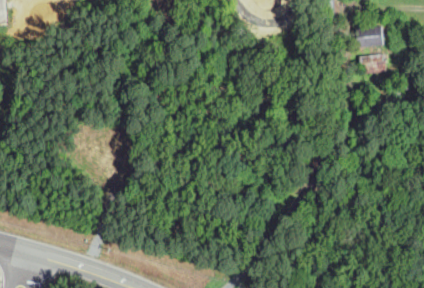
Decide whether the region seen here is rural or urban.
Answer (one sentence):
It looks rural.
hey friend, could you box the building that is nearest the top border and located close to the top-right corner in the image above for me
[358,26,384,48]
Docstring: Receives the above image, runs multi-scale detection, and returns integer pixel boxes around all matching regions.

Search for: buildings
[358,26,384,48]
[360,54,387,73]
